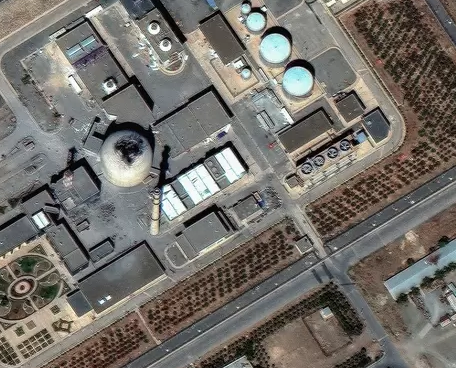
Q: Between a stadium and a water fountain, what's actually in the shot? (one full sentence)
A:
Of the two, only a water fountain appears.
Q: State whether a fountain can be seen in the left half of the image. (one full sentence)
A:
Yes, you'll find a fountain in the left half of the image.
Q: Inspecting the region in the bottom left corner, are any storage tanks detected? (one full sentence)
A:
No, there is no storage tank in the bottom left corner.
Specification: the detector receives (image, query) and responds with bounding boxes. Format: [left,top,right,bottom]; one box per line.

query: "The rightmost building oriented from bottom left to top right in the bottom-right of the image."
[384,239,456,302]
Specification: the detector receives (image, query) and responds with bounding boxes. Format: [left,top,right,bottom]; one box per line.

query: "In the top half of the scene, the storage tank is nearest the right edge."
[280,66,314,103]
